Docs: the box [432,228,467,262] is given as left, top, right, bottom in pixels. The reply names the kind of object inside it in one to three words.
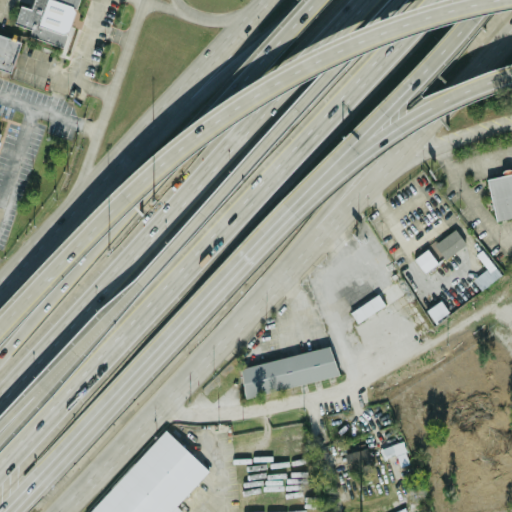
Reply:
house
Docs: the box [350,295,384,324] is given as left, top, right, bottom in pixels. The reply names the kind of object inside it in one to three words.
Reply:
shed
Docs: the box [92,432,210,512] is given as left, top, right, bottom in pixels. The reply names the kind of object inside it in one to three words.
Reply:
building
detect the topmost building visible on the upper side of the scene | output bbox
[16,0,80,48]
